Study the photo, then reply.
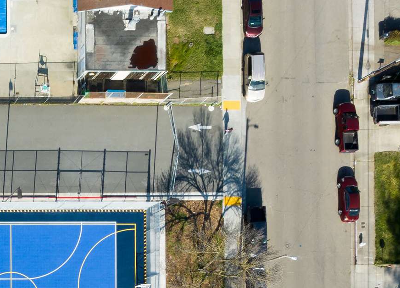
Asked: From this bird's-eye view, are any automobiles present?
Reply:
Yes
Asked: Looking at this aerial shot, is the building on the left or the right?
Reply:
left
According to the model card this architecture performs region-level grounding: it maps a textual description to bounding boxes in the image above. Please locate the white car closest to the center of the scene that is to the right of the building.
[243,55,268,102]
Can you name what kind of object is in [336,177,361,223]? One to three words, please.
car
